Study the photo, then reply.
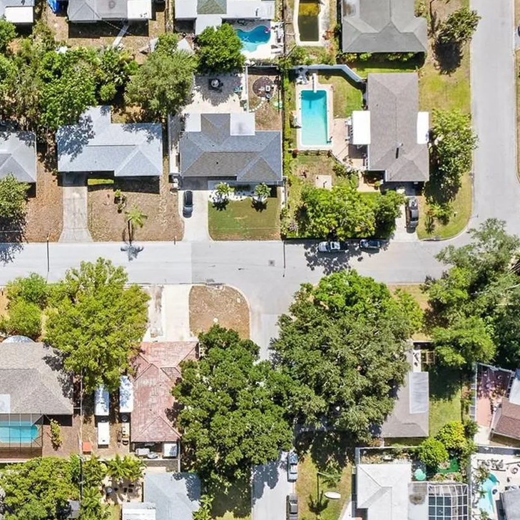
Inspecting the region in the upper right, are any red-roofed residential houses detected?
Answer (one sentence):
No, I see no red-roofed residential house in the upper right.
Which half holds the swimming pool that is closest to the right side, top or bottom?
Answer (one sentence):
It is in the bottom half that the swimming pool that is closest to the right side appears.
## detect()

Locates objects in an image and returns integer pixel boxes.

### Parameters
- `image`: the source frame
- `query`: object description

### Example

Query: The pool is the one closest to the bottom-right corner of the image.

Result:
[478,473,500,518]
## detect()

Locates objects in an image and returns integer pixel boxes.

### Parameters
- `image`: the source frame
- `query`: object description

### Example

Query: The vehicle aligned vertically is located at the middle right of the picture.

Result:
[405,200,419,229]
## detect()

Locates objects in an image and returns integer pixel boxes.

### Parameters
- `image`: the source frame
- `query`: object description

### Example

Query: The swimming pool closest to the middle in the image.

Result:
[299,89,329,147]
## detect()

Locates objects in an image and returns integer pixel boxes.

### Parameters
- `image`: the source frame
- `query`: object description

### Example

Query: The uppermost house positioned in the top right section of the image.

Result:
[335,0,428,56]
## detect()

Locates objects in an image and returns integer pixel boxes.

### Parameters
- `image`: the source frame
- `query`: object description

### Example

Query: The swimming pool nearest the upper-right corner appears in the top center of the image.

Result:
[296,0,324,42]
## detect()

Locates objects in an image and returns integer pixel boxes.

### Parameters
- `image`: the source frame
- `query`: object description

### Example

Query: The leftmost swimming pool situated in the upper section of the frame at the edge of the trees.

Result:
[237,23,272,52]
